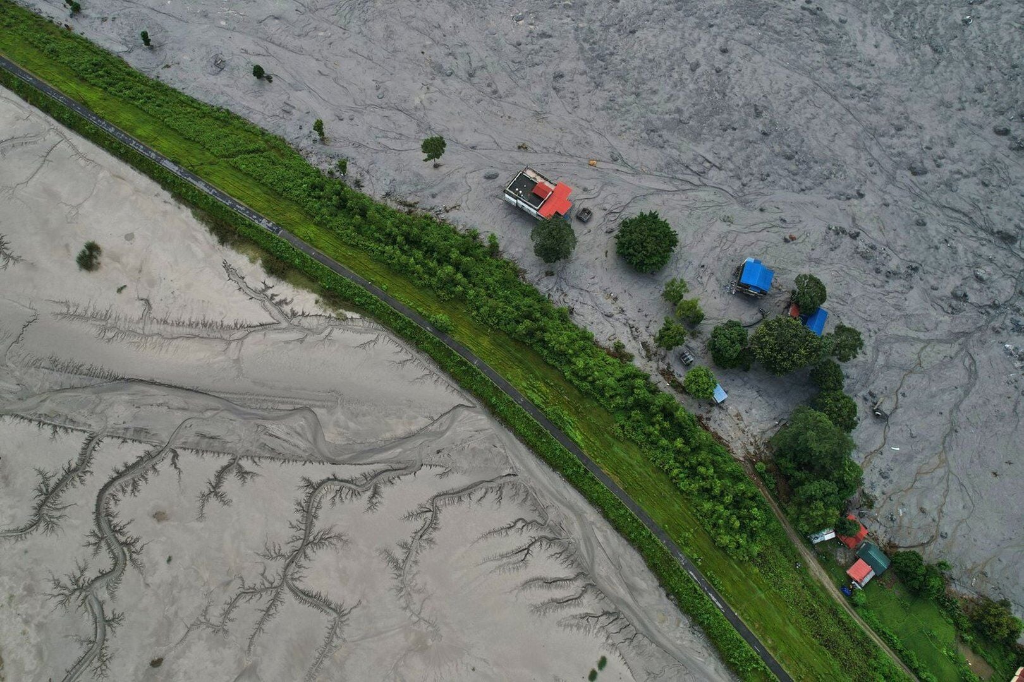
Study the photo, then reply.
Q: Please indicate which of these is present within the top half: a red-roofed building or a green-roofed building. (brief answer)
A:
red-roofed building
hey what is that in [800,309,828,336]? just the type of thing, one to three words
house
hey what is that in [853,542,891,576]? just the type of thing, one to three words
building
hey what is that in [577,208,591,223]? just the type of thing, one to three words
vehicle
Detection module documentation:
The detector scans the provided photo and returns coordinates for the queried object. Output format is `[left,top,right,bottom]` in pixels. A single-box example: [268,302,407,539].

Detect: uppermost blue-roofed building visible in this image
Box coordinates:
[735,257,773,298]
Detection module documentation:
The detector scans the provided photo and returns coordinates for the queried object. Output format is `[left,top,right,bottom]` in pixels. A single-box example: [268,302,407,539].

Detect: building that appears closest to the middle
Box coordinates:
[505,167,572,223]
